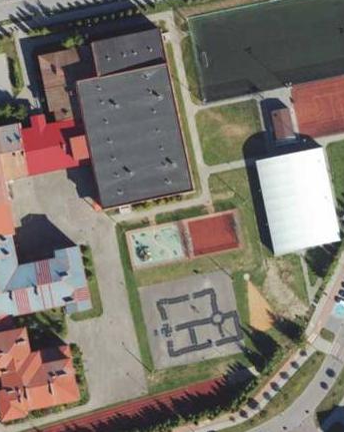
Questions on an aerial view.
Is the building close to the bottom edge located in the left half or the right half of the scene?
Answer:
left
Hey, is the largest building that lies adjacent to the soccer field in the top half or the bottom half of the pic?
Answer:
top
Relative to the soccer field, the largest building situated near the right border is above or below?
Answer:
below it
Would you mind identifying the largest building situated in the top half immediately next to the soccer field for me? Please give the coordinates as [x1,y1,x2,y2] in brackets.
[78,64,192,216]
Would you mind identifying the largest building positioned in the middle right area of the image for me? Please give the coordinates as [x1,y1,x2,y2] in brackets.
[258,148,341,256]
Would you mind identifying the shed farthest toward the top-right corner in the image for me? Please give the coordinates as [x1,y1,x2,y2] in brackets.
[271,107,295,141]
